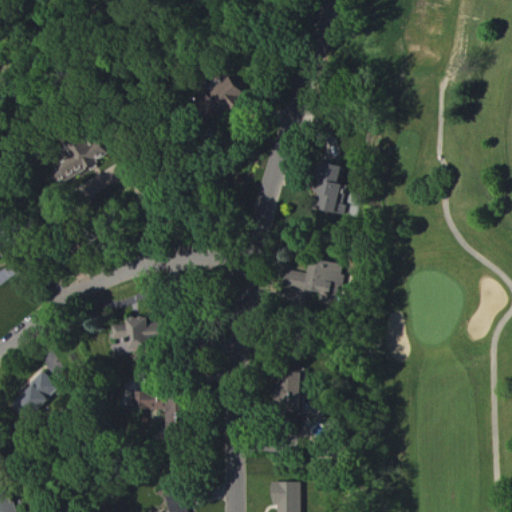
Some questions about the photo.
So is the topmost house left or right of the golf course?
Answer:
on the left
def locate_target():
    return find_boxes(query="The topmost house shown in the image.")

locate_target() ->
[206,76,242,110]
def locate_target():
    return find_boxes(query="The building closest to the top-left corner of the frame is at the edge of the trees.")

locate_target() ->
[52,140,106,182]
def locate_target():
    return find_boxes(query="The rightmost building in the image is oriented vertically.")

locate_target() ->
[324,164,346,213]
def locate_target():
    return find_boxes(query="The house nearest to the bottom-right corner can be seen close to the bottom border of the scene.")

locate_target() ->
[270,482,300,512]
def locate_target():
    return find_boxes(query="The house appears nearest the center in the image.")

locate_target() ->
[282,259,346,298]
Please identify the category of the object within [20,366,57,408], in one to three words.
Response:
house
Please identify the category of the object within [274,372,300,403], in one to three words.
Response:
house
